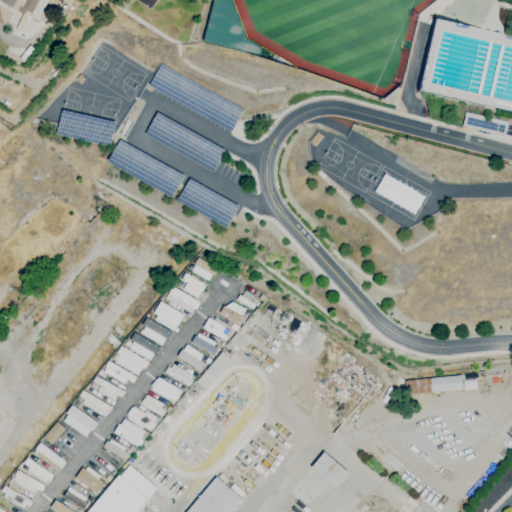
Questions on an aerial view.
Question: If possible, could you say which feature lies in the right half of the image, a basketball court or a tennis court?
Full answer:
Visible in the right half of the image is a basketball court.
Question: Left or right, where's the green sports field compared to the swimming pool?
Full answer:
You can see the green sports field positioned to the left of the swimming pool.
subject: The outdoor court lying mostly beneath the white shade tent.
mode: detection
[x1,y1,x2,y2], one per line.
[371,166,432,219]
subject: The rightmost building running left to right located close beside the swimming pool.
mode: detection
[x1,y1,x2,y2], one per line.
[464,112,511,137]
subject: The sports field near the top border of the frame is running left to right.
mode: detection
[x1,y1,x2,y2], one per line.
[203,0,438,98]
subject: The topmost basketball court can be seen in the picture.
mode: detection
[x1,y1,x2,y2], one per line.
[86,46,149,102]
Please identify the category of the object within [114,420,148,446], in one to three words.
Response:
house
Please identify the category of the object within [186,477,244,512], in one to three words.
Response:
building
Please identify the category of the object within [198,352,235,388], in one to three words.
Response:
shed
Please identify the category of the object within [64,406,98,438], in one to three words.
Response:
house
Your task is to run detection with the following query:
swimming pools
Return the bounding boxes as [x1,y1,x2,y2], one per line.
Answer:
[420,15,512,112]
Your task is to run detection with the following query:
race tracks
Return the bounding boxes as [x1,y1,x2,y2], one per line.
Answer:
[160,362,272,480]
